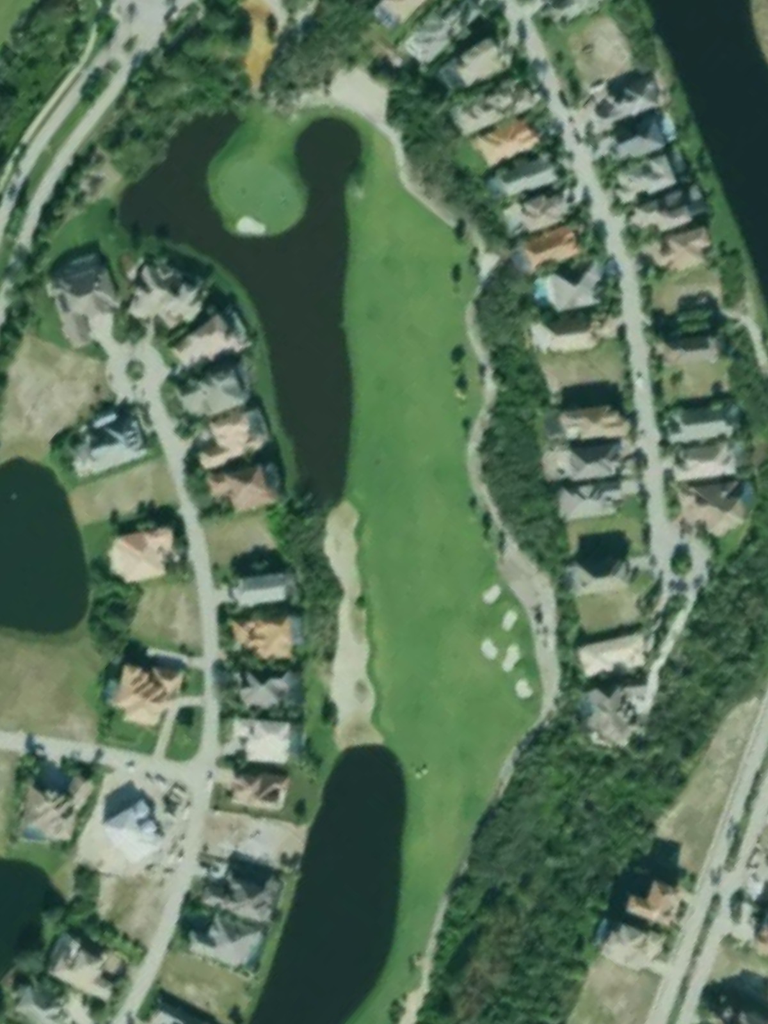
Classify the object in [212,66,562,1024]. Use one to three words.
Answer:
golf course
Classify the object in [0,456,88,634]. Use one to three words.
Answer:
pond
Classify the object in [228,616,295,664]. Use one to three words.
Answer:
house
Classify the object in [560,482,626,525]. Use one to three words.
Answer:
house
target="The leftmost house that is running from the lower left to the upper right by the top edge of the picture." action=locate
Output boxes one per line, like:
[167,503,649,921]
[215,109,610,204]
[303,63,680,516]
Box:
[404,0,481,66]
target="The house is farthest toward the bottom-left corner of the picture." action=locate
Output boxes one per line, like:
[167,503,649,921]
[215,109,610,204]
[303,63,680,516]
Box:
[8,981,83,1024]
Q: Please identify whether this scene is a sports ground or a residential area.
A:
residential area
